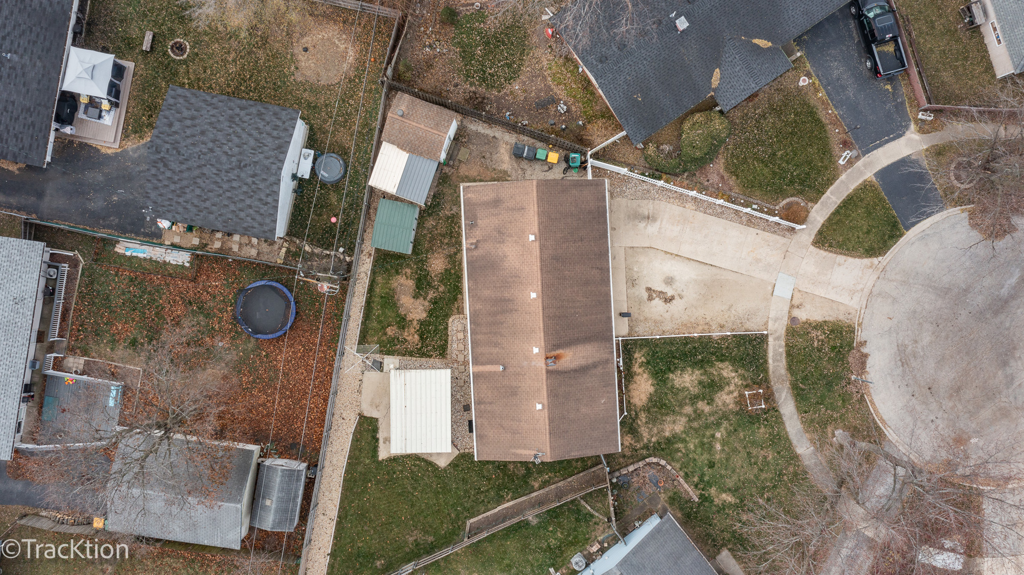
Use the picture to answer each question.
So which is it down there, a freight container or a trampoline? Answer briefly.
trampoline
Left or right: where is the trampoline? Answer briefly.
left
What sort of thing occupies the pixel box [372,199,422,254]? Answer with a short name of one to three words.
shed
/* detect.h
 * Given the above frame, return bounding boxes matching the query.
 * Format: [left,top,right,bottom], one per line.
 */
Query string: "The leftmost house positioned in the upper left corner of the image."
[0,0,82,167]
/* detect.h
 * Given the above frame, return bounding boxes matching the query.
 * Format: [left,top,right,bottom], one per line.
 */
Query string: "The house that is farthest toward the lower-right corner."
[578,505,720,575]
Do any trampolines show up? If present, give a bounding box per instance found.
[236,279,298,339]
